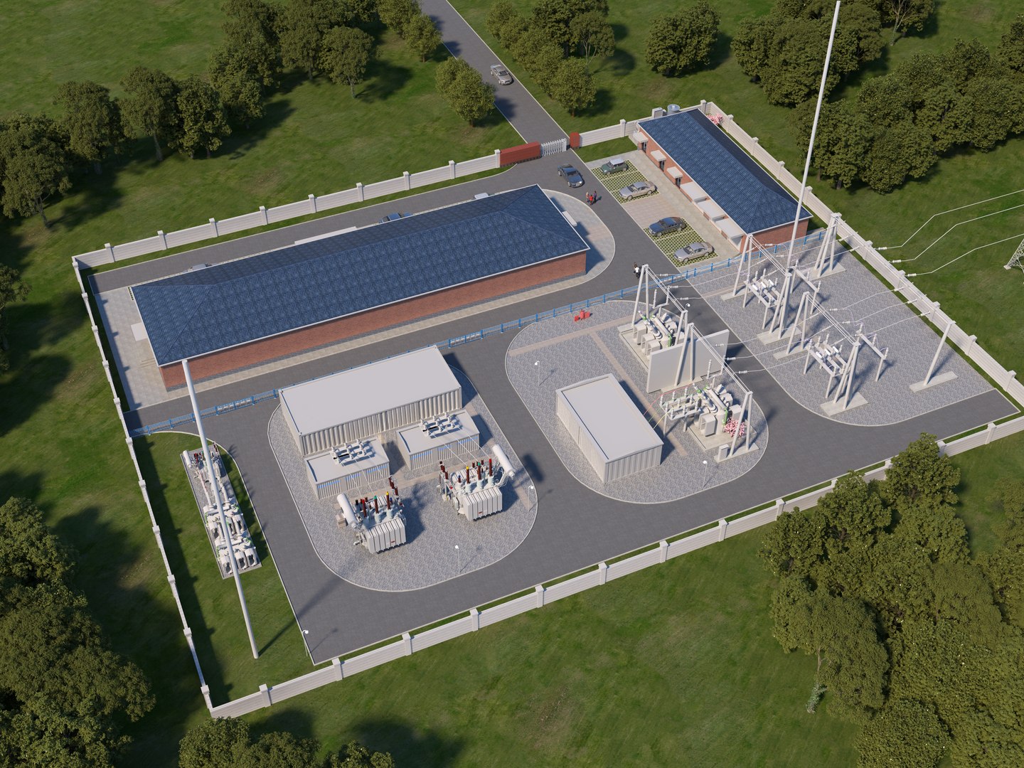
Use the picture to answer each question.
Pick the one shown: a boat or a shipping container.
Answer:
shipping container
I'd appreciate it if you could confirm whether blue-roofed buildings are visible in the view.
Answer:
Yes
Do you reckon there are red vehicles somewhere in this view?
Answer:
No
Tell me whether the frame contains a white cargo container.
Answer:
Yes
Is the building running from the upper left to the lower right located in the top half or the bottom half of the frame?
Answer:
top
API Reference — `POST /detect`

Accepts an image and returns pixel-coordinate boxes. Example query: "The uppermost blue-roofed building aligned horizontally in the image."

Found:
[130,184,591,390]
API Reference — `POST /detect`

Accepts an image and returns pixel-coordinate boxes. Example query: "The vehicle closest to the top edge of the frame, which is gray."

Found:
[490,63,513,84]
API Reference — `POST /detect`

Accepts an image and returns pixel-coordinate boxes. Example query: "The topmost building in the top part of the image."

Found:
[629,108,813,256]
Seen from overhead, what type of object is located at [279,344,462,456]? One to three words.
shipping container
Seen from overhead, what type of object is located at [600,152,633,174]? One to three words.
car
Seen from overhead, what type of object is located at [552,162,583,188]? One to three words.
car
